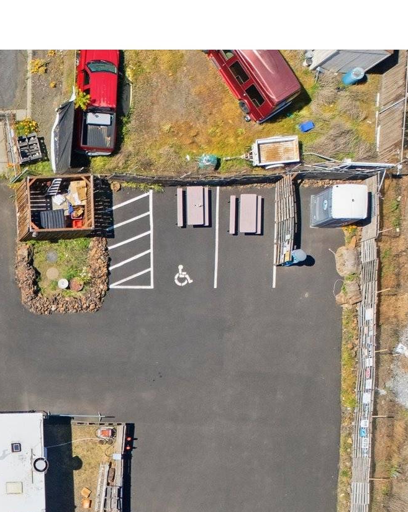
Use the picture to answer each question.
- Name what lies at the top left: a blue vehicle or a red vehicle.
red vehicle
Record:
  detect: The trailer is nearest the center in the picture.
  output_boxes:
[227,131,304,175]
